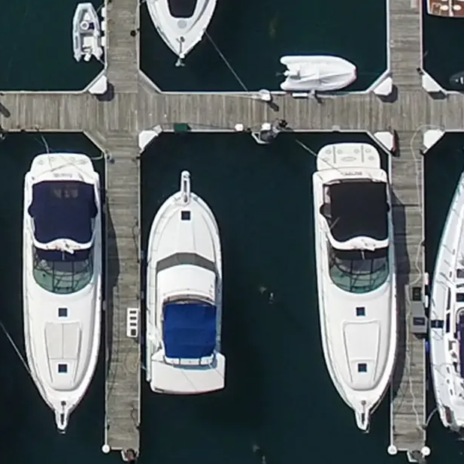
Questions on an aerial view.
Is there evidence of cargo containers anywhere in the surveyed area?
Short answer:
No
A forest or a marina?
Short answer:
marina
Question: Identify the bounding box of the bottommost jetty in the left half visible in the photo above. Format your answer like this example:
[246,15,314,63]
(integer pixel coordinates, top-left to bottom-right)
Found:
[83,130,161,458]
